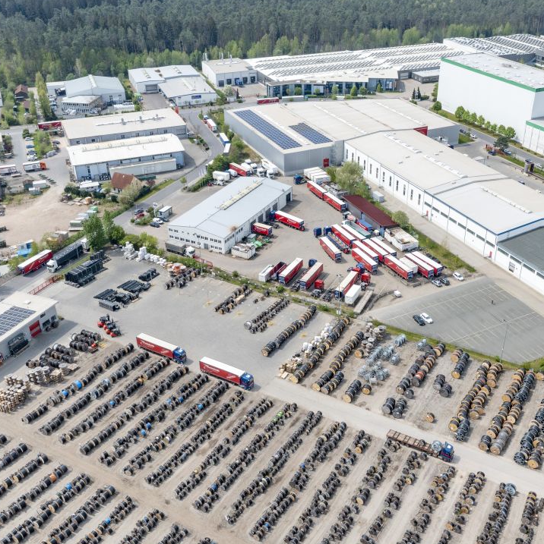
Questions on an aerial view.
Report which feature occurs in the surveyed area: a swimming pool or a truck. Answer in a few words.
truck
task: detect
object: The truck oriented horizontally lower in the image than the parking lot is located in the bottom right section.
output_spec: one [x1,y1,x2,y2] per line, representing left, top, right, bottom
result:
[381,426,448,455]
